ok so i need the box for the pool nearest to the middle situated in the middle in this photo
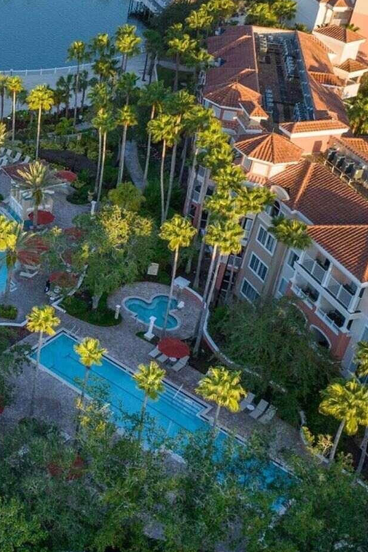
[122,293,181,332]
